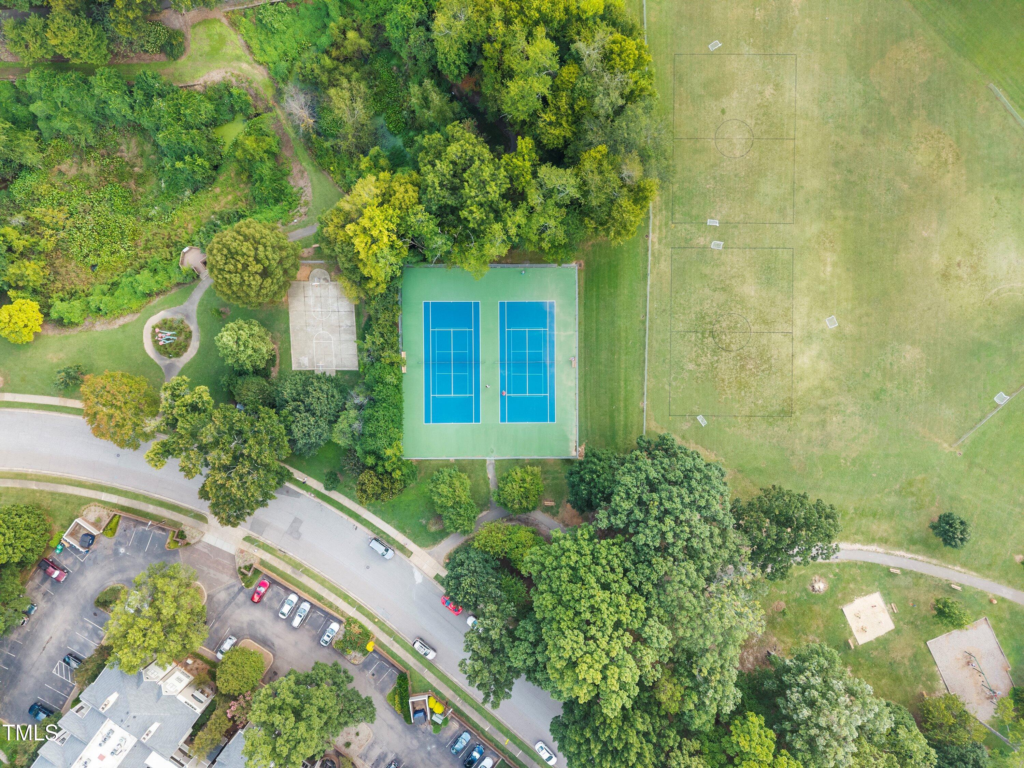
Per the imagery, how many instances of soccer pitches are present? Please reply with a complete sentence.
The photo contains 2 soccer pitches.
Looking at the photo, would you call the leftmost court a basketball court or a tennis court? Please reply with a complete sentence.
Looking closely, the leftmost court is a basketball court.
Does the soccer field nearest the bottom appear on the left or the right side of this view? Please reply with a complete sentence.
It is on the right.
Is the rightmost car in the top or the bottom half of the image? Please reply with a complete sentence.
The bottom half of the photo is where the rightmost car is.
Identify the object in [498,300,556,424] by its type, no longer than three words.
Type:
tennis court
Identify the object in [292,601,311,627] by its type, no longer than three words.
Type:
car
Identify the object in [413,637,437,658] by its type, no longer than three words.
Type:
car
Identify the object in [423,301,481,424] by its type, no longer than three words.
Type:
tennis court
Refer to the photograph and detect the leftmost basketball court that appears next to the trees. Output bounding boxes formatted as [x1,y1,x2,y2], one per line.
[288,268,358,379]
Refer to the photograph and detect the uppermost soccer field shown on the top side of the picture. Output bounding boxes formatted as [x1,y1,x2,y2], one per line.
[672,54,797,224]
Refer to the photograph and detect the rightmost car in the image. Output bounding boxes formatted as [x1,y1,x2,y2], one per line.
[535,740,555,764]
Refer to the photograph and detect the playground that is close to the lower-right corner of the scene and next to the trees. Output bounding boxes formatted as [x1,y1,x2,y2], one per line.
[927,617,1016,722]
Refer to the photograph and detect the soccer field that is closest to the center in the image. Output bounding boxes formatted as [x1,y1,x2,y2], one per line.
[669,247,794,417]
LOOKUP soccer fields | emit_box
[672,54,797,224]
[669,247,794,417]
